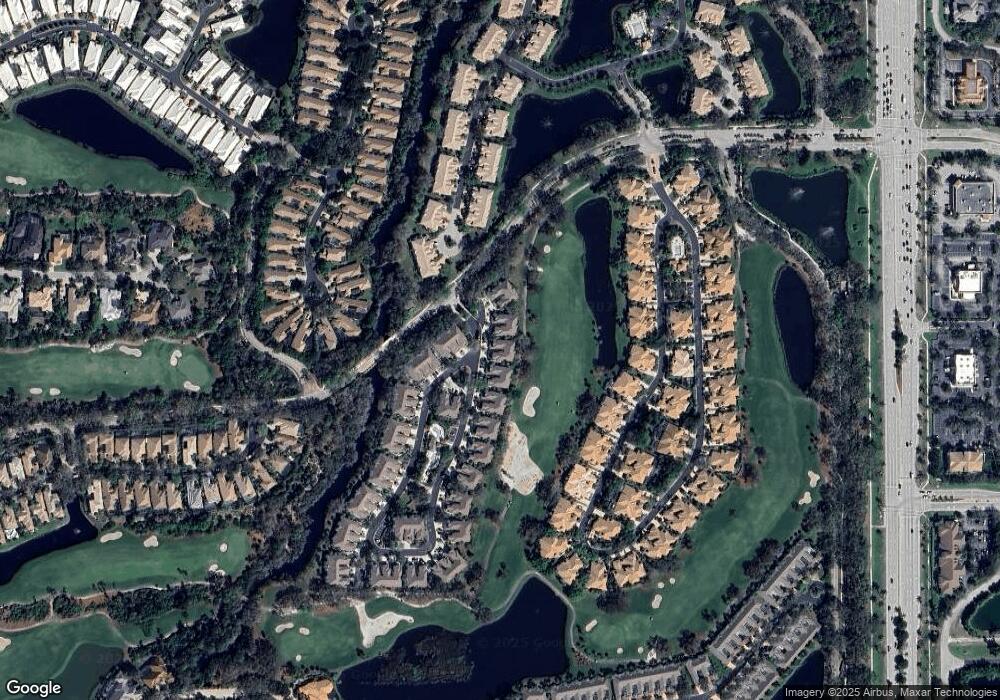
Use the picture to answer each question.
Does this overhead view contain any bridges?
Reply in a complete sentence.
Yes, this view includes a bridge.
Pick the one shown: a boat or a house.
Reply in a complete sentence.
It is a house that can be seen here.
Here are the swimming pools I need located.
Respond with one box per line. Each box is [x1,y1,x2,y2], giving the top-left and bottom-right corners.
[672,235,685,258]
[431,426,443,440]
[626,18,648,40]
[430,451,438,464]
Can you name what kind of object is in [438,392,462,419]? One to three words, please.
building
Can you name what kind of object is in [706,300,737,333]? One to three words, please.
house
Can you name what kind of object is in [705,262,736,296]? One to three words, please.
house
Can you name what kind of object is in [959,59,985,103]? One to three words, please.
building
